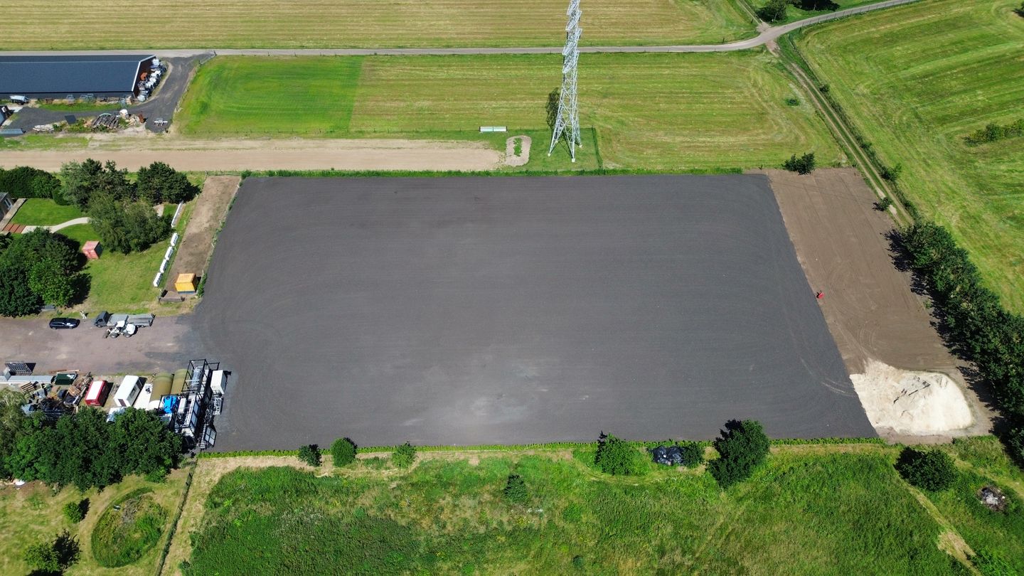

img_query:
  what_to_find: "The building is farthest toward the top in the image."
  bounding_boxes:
[0,53,156,100]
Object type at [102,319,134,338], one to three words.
work vehicle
